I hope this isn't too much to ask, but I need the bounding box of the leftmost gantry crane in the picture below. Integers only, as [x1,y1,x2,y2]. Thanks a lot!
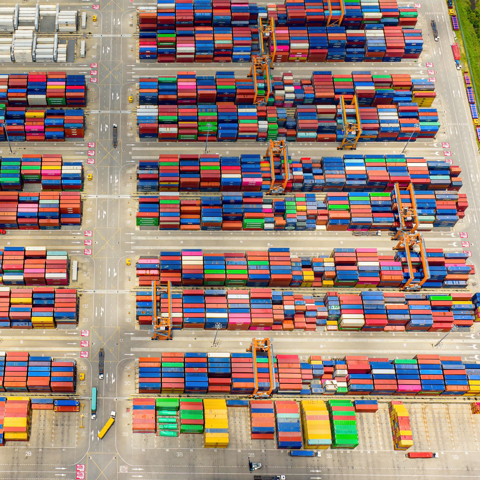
[150,279,173,341]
